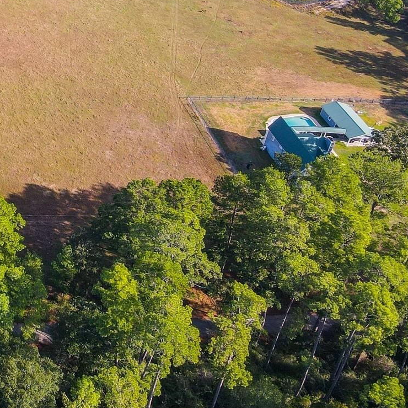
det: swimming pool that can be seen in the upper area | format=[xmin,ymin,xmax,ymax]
[290,117,316,129]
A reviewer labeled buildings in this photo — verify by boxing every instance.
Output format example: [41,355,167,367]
[261,116,339,186]
[320,98,395,163]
